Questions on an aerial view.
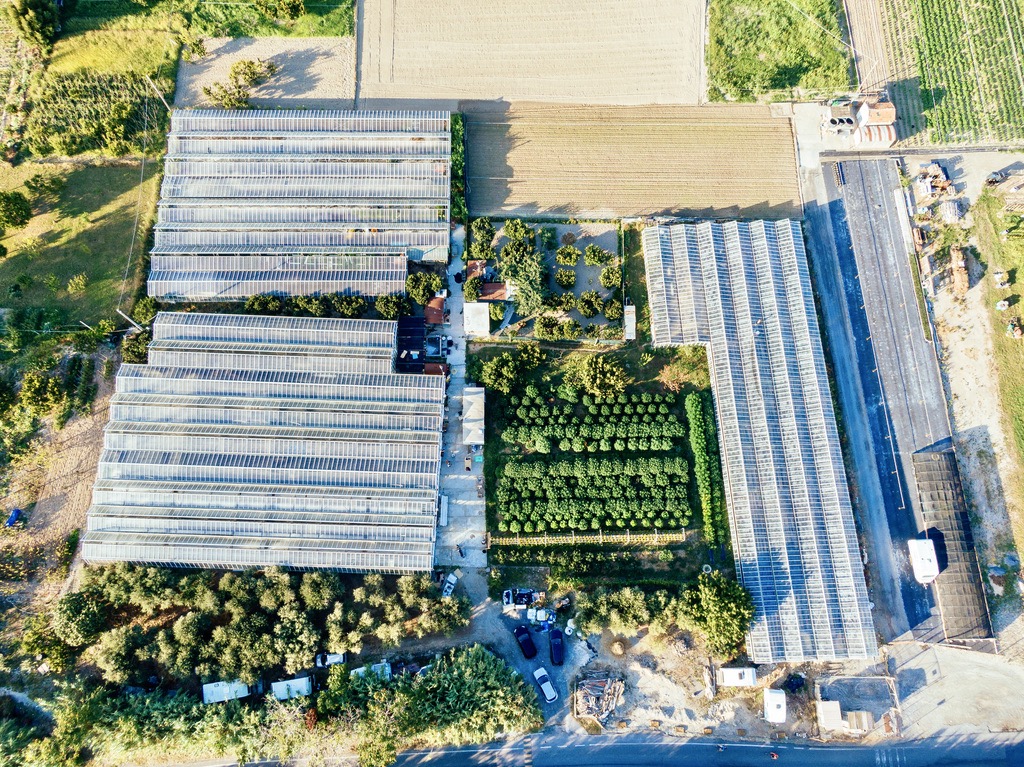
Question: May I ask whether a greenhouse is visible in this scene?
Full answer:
Yes, the picture does show a greenhouse.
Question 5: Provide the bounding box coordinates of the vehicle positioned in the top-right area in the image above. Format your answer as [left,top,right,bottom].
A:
[986,164,1010,186]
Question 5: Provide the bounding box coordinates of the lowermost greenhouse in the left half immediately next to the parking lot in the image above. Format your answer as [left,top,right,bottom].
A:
[80,312,447,571]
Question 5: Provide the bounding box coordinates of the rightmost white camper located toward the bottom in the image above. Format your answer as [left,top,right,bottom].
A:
[905,540,942,593]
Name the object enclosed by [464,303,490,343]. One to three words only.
building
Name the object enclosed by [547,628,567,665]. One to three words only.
car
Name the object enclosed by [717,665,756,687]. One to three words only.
camper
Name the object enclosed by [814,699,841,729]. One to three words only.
shed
